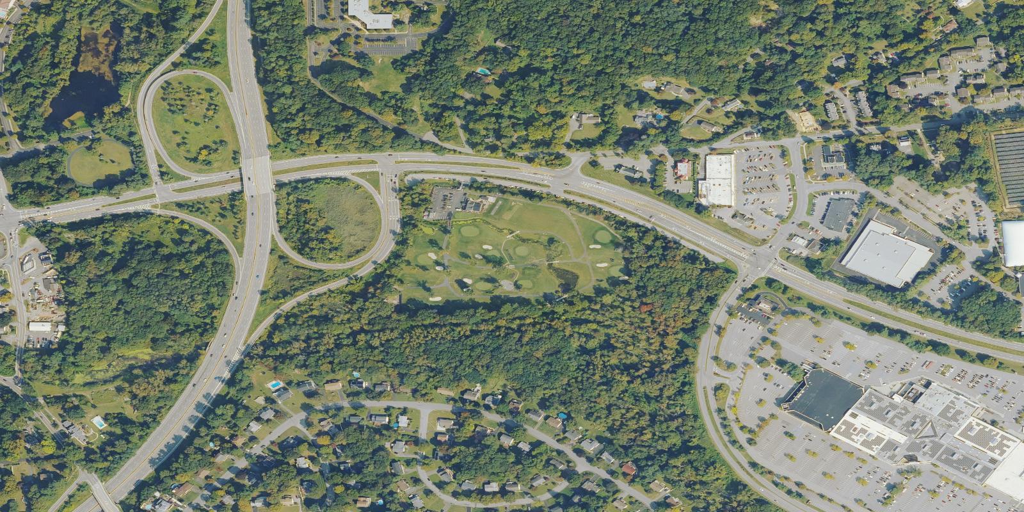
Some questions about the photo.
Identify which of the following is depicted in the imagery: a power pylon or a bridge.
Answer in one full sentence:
The one in the frame is a bridge.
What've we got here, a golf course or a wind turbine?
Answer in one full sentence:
The image shows a golf course.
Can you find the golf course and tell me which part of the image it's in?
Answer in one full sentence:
The golf course sits in the center section of the image.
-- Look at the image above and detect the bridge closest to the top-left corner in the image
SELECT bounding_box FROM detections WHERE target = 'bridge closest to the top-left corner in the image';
[240,149,272,204]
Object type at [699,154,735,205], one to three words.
building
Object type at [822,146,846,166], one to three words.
building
